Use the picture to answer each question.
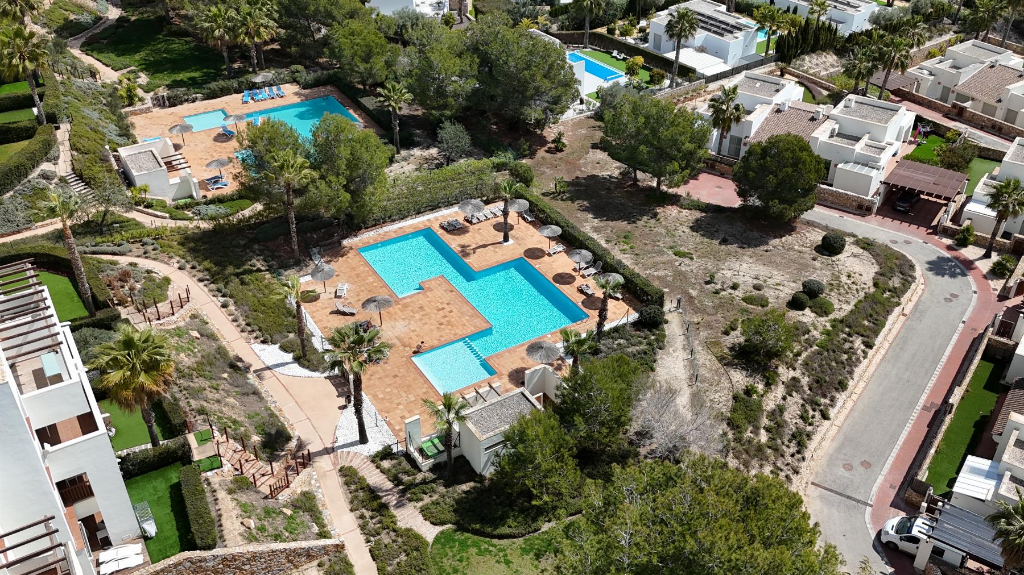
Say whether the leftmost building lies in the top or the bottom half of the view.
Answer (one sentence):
It is in the bottom half that the leftmost building appears.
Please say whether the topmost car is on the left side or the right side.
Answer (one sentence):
The topmost car sits on the right side.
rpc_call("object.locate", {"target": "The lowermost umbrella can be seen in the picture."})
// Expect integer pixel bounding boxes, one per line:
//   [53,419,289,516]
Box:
[523,334,560,365]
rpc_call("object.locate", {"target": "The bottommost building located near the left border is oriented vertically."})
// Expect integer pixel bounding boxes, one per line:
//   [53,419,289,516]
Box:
[0,256,143,575]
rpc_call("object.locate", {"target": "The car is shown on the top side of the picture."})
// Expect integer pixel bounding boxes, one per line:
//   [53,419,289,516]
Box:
[890,188,922,211]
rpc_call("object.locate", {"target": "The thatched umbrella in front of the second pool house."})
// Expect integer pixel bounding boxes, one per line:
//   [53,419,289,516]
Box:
[166,121,192,144]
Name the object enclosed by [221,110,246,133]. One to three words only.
umbrella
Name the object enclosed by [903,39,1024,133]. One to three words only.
house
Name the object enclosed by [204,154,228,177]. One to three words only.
umbrella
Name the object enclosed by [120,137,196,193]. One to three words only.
building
